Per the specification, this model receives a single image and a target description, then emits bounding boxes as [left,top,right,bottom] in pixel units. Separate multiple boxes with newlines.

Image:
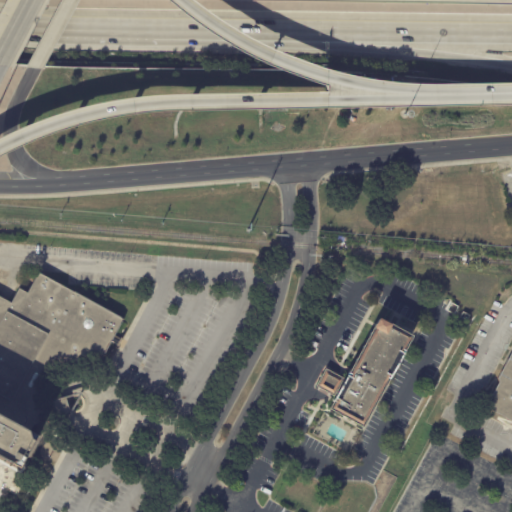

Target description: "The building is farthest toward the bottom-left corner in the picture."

[0,408,39,471]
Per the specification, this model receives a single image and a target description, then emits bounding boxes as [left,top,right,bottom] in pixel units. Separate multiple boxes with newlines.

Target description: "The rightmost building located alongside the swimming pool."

[332,317,414,426]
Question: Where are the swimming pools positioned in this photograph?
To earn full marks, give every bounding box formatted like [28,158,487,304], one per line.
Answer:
[306,410,365,451]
